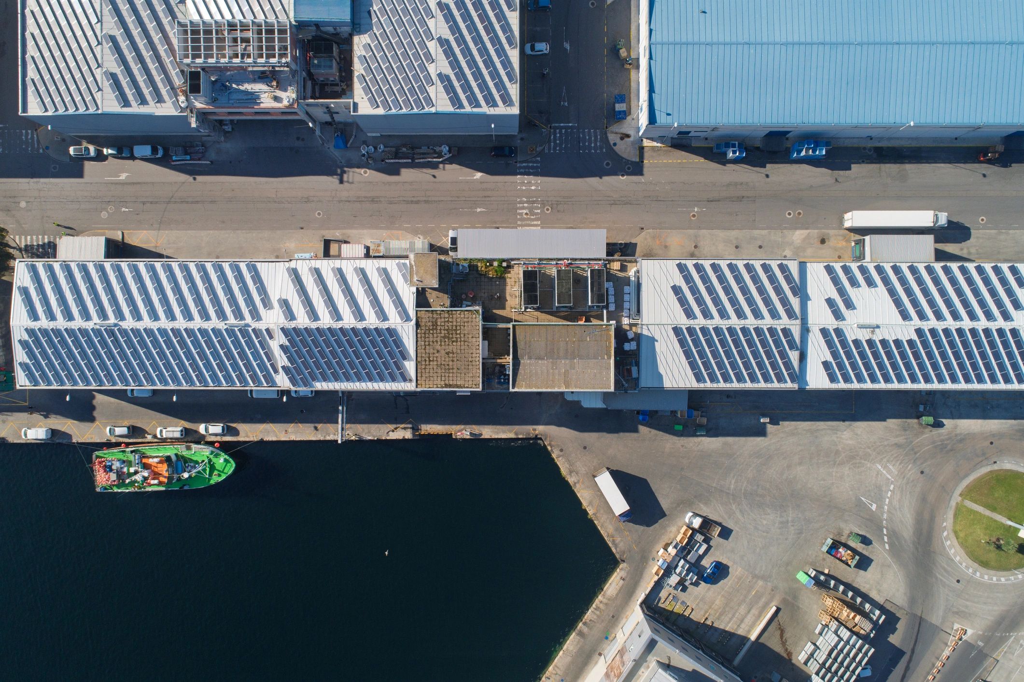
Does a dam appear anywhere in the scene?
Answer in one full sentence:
No, this view has no dam in it.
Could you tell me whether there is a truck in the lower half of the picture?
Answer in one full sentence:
Yes, looking in the lower half of the picture, one can make out a truck.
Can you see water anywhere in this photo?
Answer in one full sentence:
Yes, there is water in the image.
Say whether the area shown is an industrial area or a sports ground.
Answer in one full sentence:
What you see here is an industrial area.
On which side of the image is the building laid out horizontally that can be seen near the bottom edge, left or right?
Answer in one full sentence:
The building laid out horizontally that can be seen near the bottom edge sits on the right side.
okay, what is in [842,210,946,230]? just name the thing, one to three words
vehicle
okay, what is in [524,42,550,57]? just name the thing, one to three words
car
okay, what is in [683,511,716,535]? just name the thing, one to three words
truck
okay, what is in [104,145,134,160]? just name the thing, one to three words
car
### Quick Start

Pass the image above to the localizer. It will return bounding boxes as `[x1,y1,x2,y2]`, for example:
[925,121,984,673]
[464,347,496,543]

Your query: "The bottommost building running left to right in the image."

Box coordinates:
[570,603,766,682]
